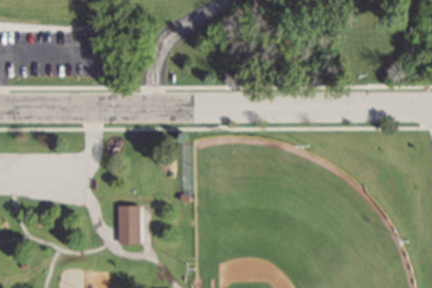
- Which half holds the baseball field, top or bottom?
bottom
